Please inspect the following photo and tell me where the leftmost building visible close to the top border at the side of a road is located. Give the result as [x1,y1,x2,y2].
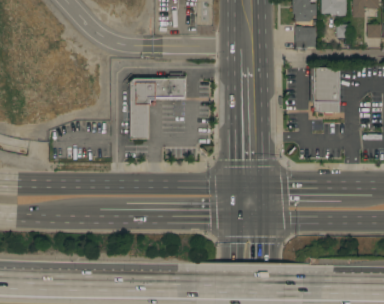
[198,0,213,26]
